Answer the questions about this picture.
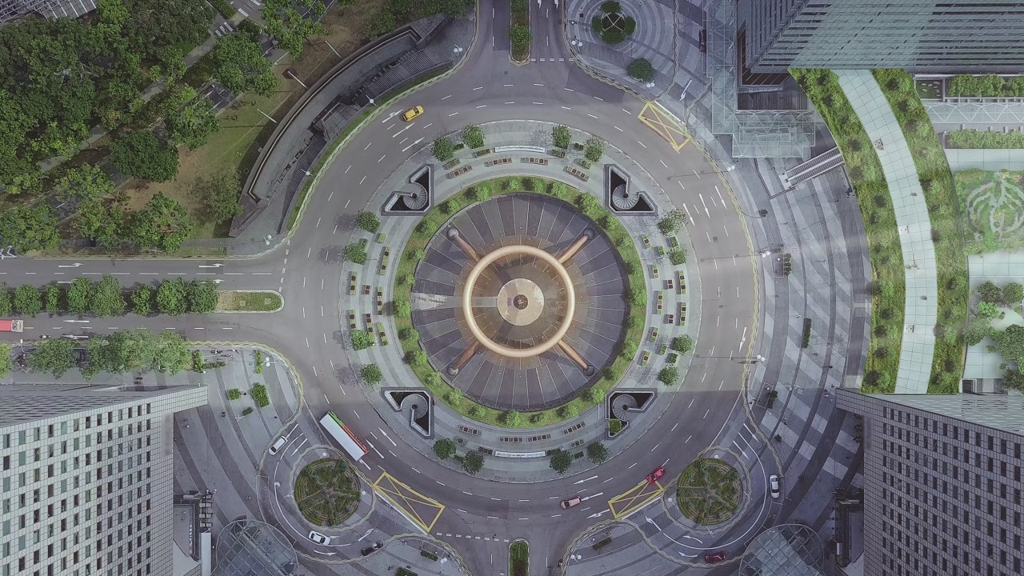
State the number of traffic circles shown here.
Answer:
1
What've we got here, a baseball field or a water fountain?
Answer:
water fountain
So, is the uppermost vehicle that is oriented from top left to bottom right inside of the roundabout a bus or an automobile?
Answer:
bus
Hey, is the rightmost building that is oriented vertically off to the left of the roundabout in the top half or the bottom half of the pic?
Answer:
bottom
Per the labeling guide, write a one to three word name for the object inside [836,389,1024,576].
building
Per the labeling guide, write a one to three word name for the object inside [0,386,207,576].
building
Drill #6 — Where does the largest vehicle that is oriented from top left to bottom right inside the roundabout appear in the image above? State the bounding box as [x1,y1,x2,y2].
[321,408,371,461]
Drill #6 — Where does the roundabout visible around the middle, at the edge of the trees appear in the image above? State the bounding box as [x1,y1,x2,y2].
[283,65,754,539]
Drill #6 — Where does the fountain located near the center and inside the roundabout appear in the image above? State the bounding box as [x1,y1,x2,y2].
[410,192,630,411]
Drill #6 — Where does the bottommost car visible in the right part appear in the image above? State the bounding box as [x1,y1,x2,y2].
[704,550,725,562]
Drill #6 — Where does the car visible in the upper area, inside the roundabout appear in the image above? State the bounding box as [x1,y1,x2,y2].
[402,106,424,122]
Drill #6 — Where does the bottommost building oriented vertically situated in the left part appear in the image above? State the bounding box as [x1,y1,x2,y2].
[174,494,212,576]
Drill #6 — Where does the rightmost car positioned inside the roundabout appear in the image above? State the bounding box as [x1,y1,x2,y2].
[646,466,666,482]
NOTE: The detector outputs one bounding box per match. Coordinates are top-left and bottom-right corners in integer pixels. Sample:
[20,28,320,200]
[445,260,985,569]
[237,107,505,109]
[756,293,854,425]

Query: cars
[646,466,666,482]
[769,474,779,497]
[309,531,331,545]
[269,435,288,454]
[361,541,383,556]
[402,106,424,122]
[698,29,708,51]
[704,550,725,562]
[561,496,582,509]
